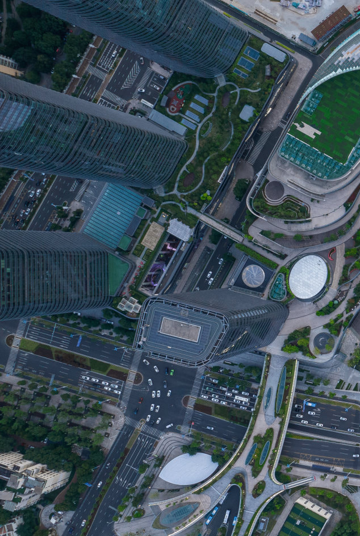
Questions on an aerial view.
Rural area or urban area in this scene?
urban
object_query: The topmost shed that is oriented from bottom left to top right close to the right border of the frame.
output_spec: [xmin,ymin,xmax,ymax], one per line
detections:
[311,5,353,41]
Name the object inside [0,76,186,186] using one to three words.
building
